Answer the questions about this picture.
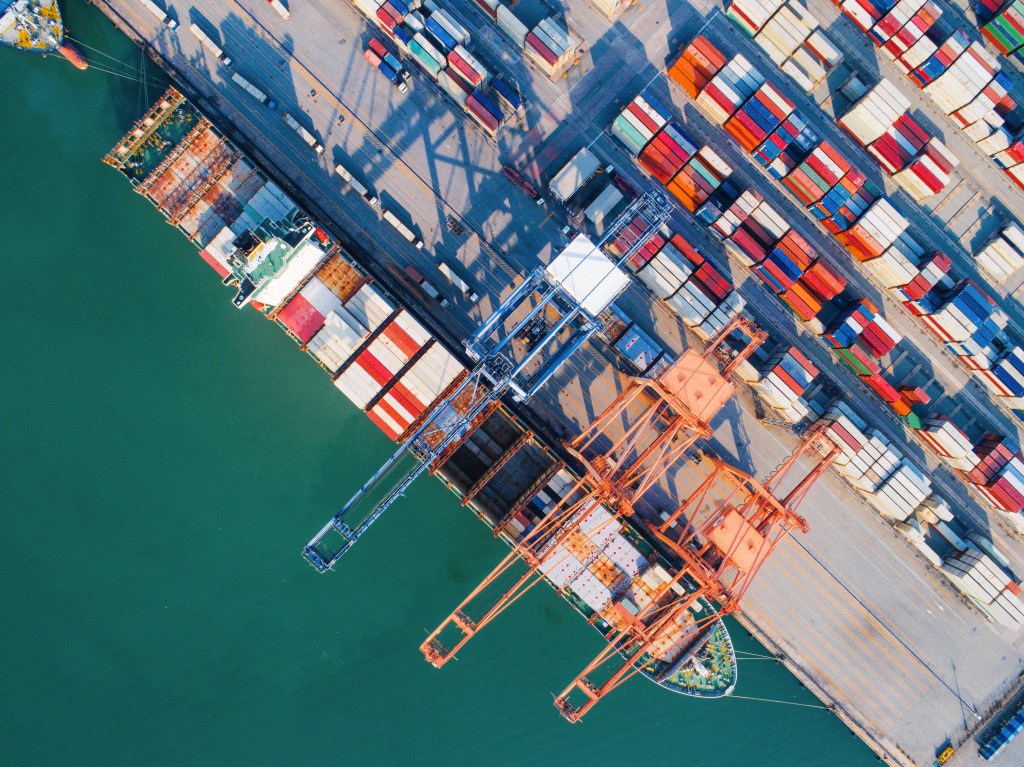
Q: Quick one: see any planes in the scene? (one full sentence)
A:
No, this view has no plane in it.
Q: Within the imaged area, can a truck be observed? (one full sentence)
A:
Yes, the picture does show a truck.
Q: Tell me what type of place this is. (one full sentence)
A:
This image shows a port.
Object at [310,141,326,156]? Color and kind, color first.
white vehicle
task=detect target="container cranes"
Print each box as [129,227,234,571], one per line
[301,192,670,573]
[551,425,840,725]
[416,312,765,670]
